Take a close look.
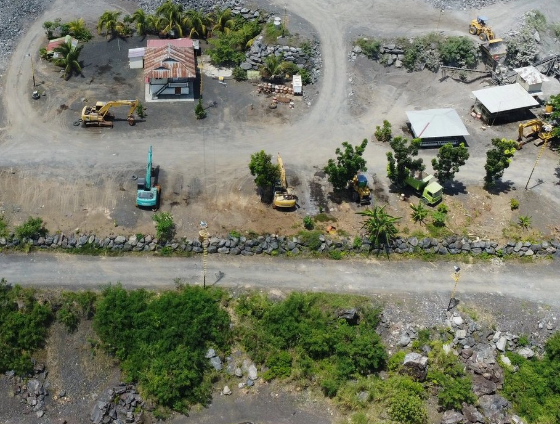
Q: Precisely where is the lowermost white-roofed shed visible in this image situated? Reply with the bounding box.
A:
[404,107,470,151]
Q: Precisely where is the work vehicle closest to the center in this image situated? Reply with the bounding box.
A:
[271,171,301,213]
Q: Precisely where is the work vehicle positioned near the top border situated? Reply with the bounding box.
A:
[461,16,507,44]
